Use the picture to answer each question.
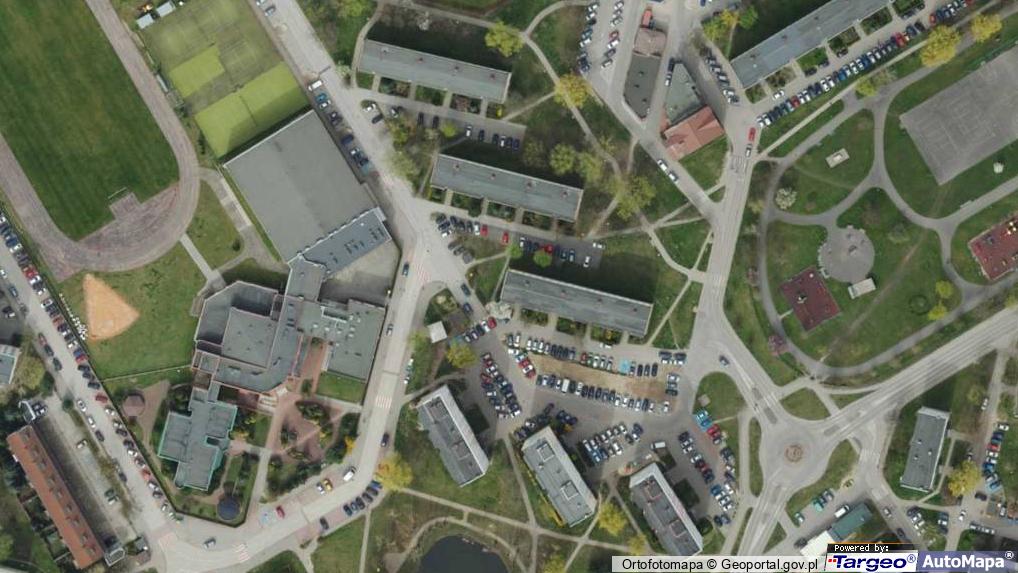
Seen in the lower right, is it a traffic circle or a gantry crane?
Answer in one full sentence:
The feature located in the lower right is a traffic circle.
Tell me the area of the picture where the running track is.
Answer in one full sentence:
The running track is in the top left part of the image.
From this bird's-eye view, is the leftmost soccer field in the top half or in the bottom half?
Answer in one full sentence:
It is in the top half that the leftmost soccer field appears.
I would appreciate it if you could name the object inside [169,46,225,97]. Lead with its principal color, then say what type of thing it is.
green tennis court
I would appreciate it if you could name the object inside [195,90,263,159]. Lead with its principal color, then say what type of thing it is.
green tennis court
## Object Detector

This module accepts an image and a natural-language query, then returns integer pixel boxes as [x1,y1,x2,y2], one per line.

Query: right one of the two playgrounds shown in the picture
[967,213,1018,282]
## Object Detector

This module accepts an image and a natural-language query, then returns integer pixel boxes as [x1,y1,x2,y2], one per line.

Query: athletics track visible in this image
[0,0,200,283]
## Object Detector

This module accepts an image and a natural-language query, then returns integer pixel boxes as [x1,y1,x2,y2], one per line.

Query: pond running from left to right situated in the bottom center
[419,535,507,573]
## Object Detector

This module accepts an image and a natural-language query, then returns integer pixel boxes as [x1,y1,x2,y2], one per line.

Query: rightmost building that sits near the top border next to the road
[731,0,895,91]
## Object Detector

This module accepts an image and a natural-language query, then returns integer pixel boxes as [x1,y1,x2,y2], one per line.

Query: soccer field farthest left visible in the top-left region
[0,0,180,241]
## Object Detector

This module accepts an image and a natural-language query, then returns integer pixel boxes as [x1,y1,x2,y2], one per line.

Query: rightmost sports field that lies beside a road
[138,0,311,158]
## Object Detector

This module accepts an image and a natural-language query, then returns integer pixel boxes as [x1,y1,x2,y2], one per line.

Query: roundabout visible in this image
[743,370,900,530]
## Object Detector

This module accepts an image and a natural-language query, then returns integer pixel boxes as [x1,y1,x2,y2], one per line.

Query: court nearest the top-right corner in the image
[900,46,1018,185]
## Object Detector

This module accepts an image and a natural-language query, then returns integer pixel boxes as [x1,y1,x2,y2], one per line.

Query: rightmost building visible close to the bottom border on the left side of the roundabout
[631,457,703,562]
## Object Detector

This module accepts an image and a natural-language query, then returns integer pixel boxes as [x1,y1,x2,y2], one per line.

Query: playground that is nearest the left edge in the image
[780,265,840,332]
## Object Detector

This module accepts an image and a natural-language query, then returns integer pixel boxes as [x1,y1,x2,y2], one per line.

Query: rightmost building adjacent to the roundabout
[900,404,951,492]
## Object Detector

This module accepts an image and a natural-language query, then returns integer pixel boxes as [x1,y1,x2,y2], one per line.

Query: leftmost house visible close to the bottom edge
[5,424,109,570]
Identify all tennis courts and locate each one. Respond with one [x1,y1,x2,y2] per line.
[195,90,263,159]
[146,3,216,70]
[219,20,281,84]
[169,46,225,97]
[241,62,310,130]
